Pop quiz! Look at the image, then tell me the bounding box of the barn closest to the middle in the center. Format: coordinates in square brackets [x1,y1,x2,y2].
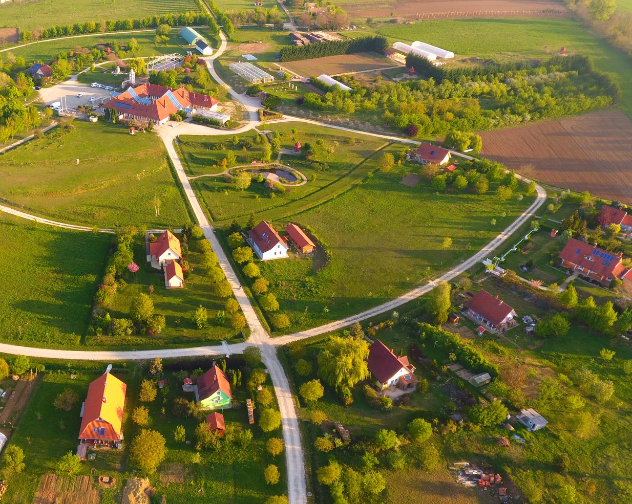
[285,223,315,254]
